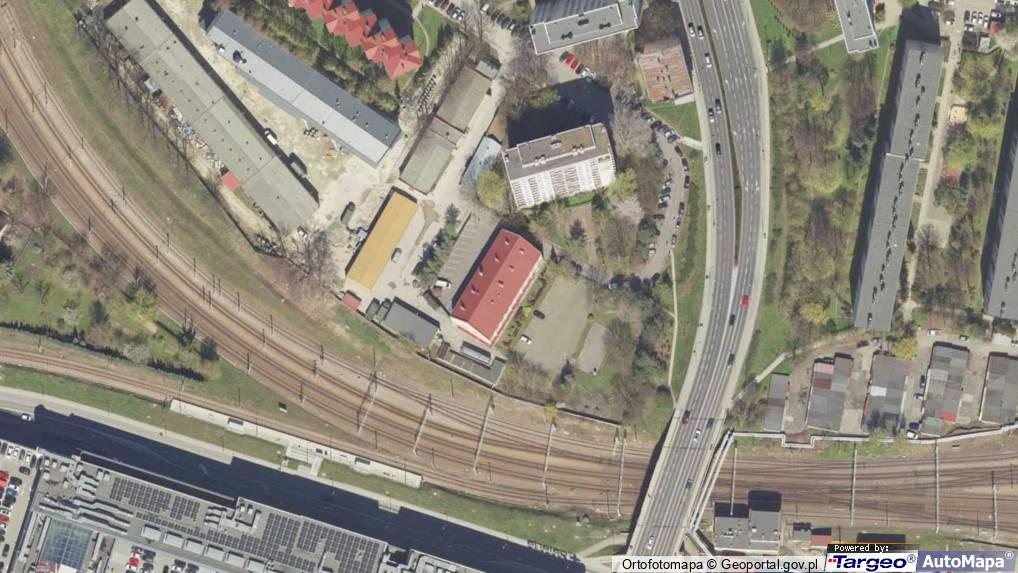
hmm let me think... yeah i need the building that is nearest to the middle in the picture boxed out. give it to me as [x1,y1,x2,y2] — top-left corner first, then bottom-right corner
[451,229,544,350]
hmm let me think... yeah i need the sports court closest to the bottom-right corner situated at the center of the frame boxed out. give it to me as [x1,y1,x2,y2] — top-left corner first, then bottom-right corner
[578,321,607,372]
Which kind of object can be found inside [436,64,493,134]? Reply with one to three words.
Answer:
building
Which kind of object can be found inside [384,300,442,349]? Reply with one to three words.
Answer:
building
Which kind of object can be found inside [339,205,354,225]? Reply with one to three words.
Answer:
vehicle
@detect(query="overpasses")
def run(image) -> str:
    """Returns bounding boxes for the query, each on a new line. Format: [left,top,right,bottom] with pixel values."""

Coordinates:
[620,0,773,573]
